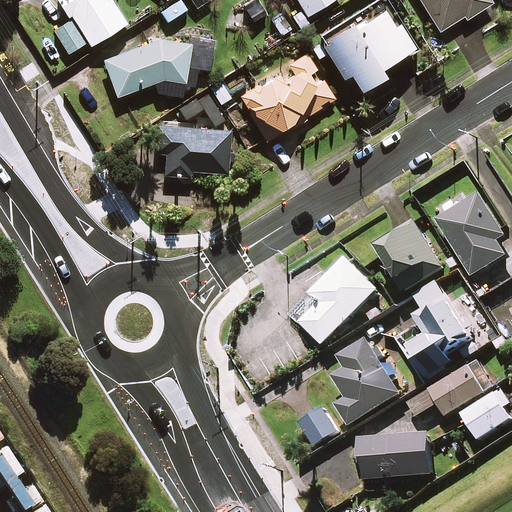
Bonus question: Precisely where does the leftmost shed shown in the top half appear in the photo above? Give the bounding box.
[54,21,86,54]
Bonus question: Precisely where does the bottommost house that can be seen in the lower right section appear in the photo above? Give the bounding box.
[354,430,435,480]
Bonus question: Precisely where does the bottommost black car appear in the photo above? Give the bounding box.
[148,398,166,422]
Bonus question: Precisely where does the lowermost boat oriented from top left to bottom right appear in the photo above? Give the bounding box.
[498,321,512,337]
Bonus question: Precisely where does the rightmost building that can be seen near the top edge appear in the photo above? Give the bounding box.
[421,0,494,32]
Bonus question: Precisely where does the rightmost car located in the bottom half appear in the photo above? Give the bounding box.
[365,322,385,338]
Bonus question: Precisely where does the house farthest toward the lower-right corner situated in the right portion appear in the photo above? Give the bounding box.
[458,388,512,440]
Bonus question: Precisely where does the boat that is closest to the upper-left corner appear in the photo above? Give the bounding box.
[44,36,58,60]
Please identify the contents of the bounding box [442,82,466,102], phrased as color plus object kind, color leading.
black car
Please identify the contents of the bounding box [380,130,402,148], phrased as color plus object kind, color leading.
white car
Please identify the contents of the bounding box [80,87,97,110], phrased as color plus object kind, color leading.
blue car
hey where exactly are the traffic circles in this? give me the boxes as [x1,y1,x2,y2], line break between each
[94,281,176,362]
